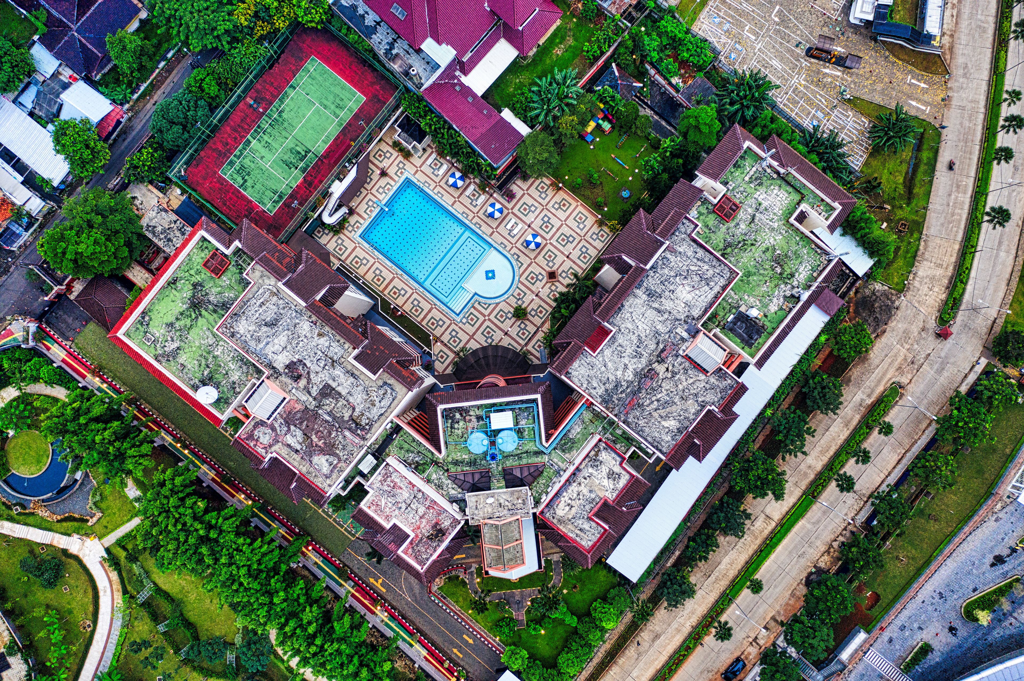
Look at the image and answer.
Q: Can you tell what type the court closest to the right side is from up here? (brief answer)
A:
tennis court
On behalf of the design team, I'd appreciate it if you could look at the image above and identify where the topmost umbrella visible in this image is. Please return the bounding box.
[449,172,465,188]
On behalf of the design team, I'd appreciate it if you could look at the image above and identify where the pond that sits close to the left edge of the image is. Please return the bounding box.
[0,425,83,508]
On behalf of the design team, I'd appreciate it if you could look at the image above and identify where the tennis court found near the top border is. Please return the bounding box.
[184,22,404,239]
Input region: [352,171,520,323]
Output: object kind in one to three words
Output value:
swimming pool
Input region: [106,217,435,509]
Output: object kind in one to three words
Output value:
building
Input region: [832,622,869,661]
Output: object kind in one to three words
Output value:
house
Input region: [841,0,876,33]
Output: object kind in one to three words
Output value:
building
